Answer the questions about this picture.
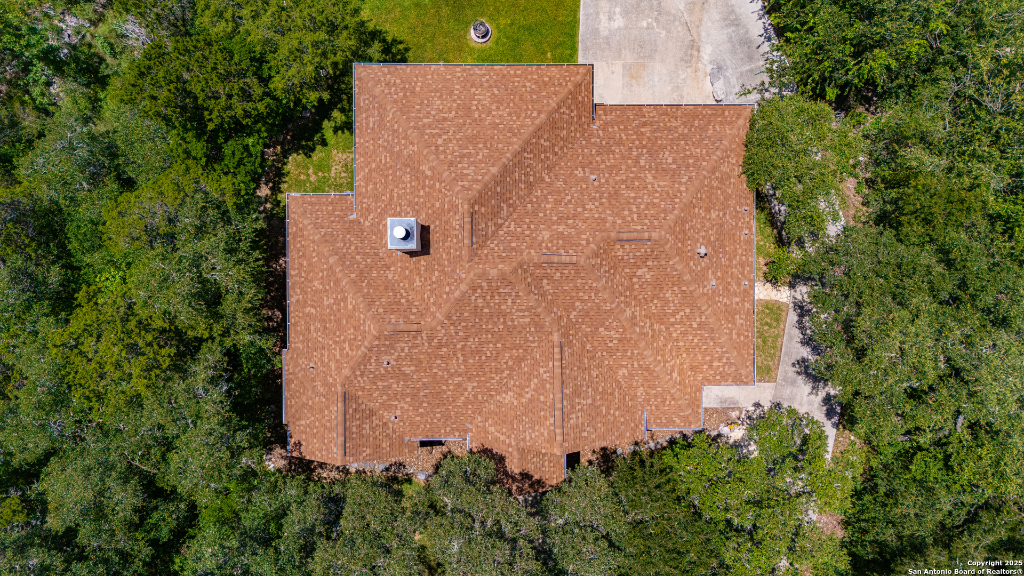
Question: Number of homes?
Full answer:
There is 1 home in the image.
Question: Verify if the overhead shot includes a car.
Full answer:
No, there isn't any car down there.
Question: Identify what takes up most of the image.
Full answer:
The largest share of the image is taken up by trees.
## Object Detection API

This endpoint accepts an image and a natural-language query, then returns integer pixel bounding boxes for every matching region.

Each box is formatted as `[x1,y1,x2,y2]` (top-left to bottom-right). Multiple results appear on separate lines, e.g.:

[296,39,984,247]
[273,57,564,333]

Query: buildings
[280,63,757,492]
